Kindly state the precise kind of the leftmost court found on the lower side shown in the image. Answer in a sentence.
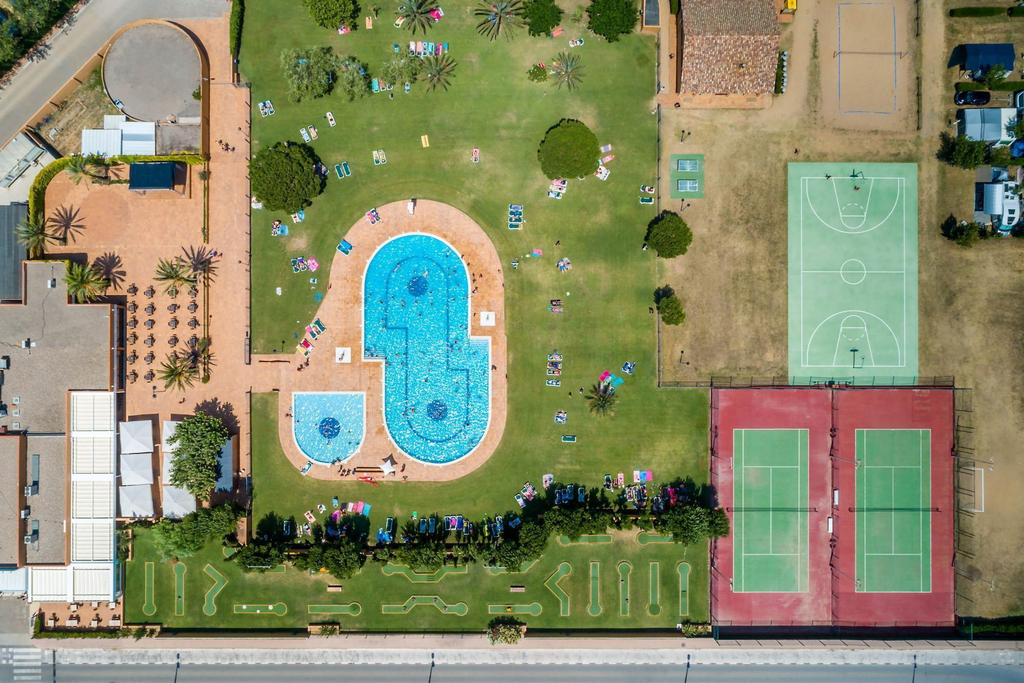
The leftmost court found on the lower side can be classified as a tennis court.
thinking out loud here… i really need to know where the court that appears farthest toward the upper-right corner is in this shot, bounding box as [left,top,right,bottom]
[838,3,897,113]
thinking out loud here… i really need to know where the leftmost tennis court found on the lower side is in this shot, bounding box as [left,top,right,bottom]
[712,387,832,626]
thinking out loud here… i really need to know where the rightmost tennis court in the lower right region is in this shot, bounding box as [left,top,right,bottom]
[832,387,955,626]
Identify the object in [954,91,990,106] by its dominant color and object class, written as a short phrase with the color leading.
black car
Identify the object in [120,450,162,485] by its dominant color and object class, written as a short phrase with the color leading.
white tent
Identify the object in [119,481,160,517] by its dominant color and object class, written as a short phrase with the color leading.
white tent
